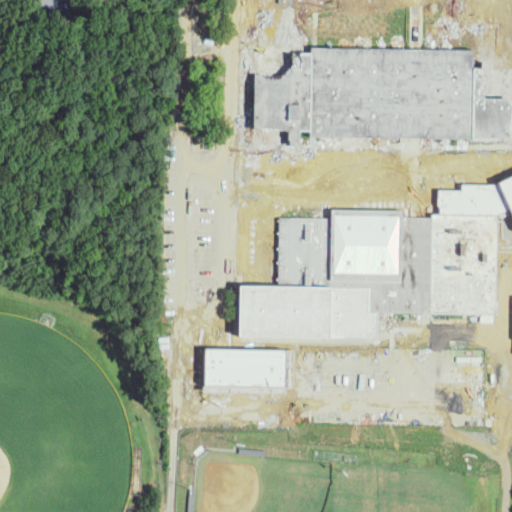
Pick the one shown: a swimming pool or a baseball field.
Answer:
baseball field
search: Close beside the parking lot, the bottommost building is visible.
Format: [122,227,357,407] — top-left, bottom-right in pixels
[203,348,288,394]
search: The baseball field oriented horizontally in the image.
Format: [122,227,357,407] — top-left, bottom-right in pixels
[195,453,500,512]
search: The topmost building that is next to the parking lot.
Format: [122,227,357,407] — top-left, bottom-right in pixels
[254,49,512,148]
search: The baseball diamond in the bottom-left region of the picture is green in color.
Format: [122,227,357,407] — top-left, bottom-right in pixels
[0,314,131,512]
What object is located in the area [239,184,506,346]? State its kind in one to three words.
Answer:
building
